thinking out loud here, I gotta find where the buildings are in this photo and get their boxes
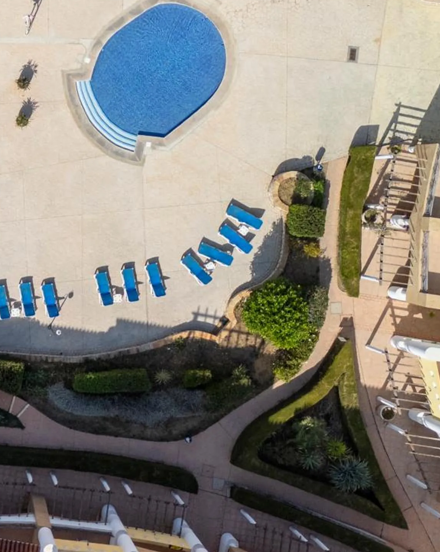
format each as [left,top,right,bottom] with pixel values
[374,328,440,458]
[0,484,208,552]
[373,144,440,310]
